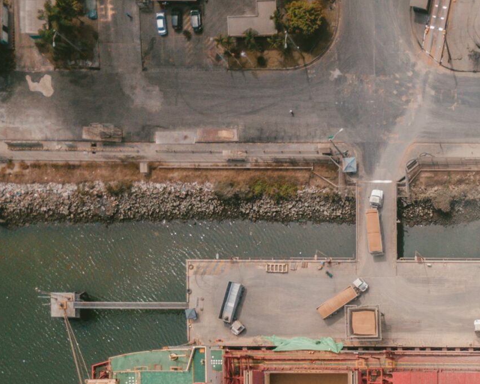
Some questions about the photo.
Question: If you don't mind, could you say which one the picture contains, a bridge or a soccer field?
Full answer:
The image shows a bridge.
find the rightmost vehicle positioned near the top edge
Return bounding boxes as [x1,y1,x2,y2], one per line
[191,10,203,34]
